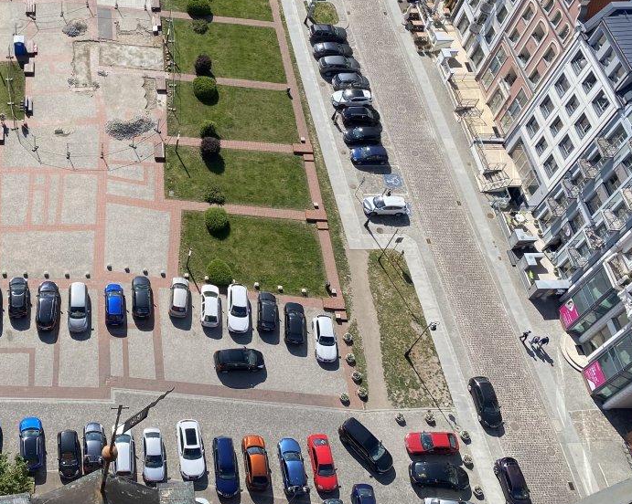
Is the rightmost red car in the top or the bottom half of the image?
bottom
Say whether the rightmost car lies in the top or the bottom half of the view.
bottom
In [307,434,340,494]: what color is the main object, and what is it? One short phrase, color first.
red car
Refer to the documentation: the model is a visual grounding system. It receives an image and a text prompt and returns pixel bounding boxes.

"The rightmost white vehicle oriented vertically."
[312,313,339,364]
